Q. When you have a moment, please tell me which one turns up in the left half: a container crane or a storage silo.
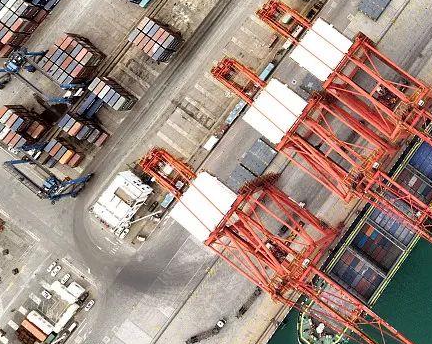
container crane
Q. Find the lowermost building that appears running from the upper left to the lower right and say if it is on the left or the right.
left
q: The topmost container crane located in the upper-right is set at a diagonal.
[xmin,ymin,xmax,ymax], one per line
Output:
[254,0,432,148]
